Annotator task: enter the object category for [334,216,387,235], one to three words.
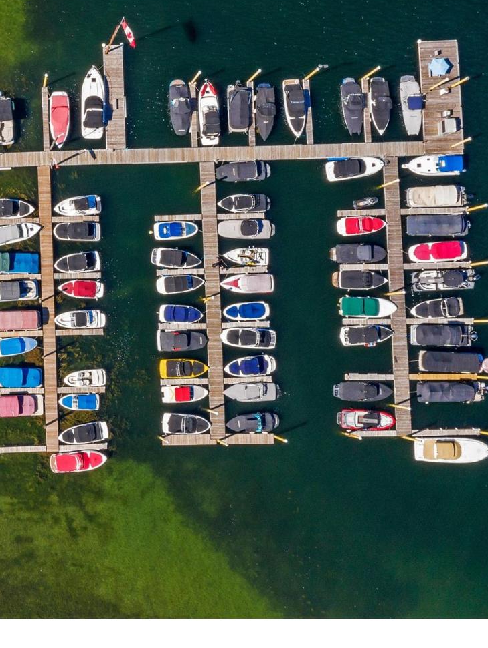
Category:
boat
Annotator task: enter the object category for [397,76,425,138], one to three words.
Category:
boat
